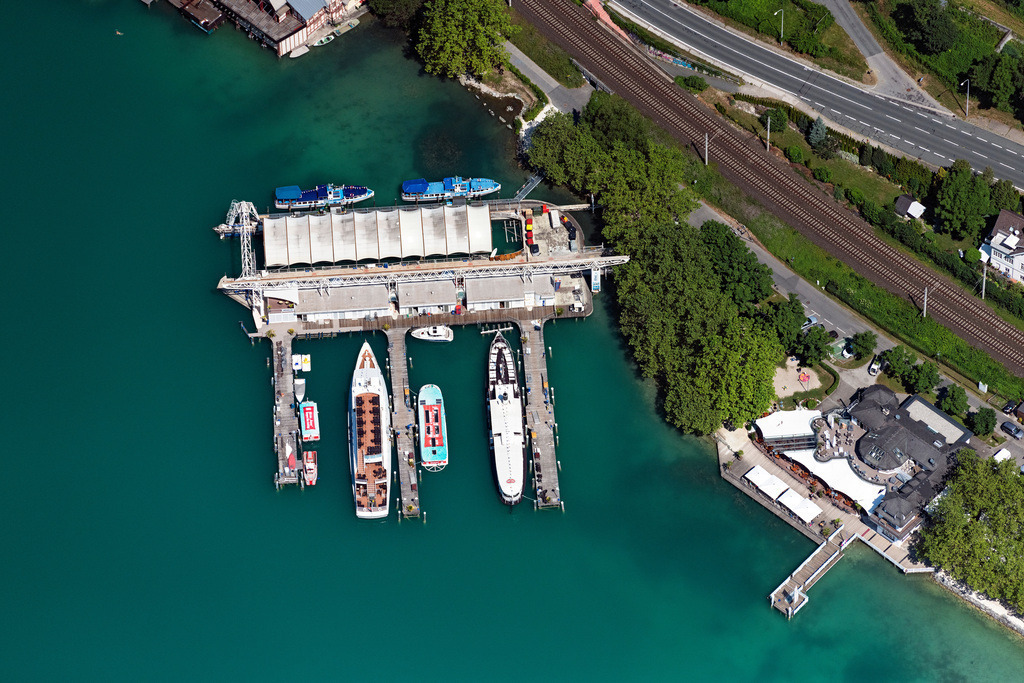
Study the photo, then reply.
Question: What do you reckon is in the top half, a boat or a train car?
boat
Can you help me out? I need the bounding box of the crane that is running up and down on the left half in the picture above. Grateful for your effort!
[224,197,261,303]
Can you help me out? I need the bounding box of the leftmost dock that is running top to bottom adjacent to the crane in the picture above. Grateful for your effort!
[262,336,300,484]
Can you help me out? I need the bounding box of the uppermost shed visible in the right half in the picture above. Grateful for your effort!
[896,193,926,219]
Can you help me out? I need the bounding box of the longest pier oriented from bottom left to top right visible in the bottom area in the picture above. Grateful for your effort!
[770,541,845,623]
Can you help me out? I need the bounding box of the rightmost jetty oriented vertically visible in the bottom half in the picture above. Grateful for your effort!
[514,319,559,508]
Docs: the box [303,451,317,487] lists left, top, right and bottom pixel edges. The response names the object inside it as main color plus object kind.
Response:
white boat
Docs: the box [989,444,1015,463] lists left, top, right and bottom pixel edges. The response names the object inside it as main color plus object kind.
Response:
white vehicle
